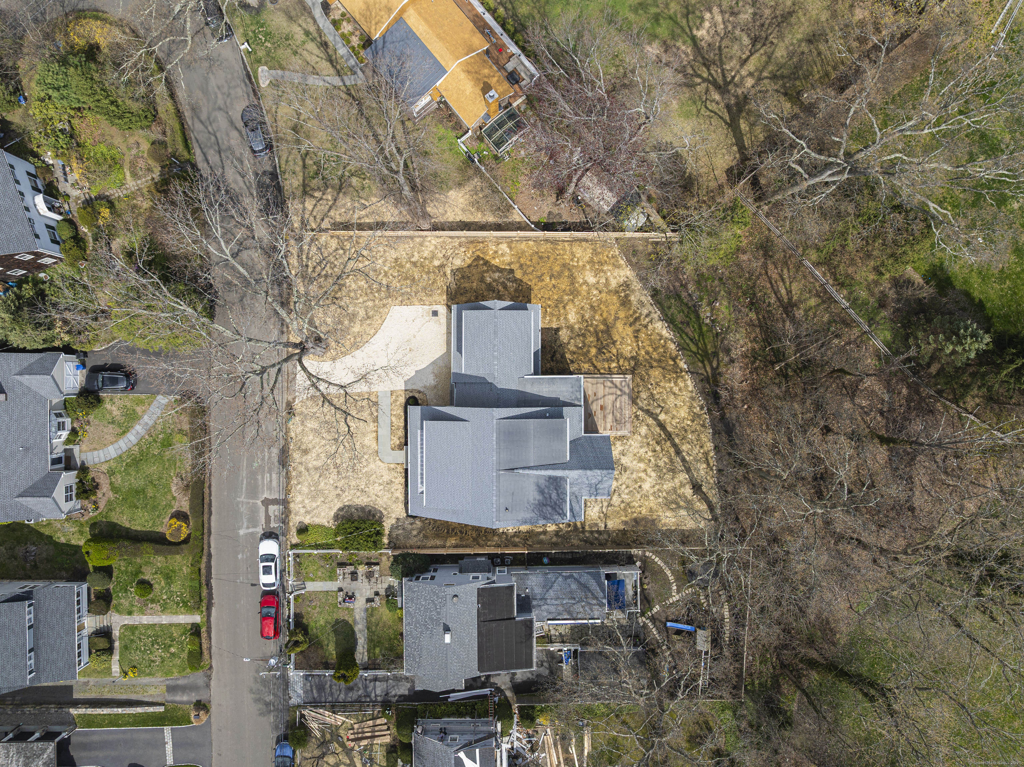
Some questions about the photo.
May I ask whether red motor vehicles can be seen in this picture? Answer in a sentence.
Yes, you can see a red motor vehicle in this photo.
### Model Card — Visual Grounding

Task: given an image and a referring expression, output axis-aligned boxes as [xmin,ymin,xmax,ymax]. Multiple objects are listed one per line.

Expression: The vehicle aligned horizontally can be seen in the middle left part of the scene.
[83,367,135,391]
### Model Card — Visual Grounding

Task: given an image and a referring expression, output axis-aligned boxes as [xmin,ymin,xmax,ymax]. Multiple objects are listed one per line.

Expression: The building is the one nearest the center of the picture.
[404,300,614,528]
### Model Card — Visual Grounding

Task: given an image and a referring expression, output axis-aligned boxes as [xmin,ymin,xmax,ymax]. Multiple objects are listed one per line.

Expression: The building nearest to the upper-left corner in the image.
[0,146,61,274]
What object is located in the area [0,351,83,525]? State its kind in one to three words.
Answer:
house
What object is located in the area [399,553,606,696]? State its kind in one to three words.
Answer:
house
